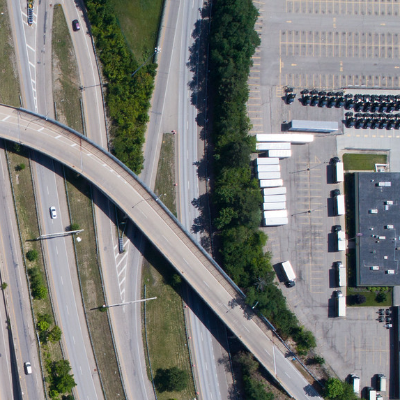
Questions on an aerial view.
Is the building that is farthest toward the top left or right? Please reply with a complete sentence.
You can find the building that is farthest toward the top on the right side of the picture.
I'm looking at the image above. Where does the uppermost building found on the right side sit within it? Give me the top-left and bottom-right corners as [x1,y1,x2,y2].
[348,162,400,286]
